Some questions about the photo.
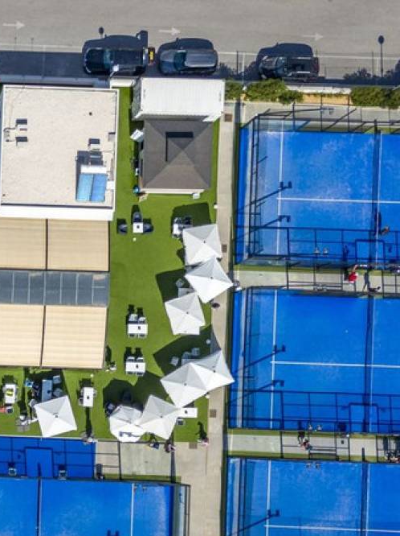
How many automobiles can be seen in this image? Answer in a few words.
3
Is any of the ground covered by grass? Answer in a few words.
Yes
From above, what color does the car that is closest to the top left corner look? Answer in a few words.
black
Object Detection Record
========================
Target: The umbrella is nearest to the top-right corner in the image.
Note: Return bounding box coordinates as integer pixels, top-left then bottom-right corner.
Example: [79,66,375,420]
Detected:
[181,222,221,262]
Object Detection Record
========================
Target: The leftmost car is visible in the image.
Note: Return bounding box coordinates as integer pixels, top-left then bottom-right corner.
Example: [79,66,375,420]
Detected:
[82,42,155,76]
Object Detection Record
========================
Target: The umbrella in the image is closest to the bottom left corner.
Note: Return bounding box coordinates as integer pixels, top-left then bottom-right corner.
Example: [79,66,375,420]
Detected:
[32,394,75,437]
